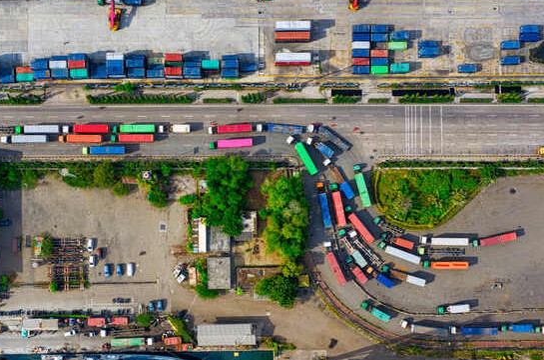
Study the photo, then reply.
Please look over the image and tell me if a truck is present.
Yes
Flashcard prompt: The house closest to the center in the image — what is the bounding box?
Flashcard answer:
[241,211,256,233]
